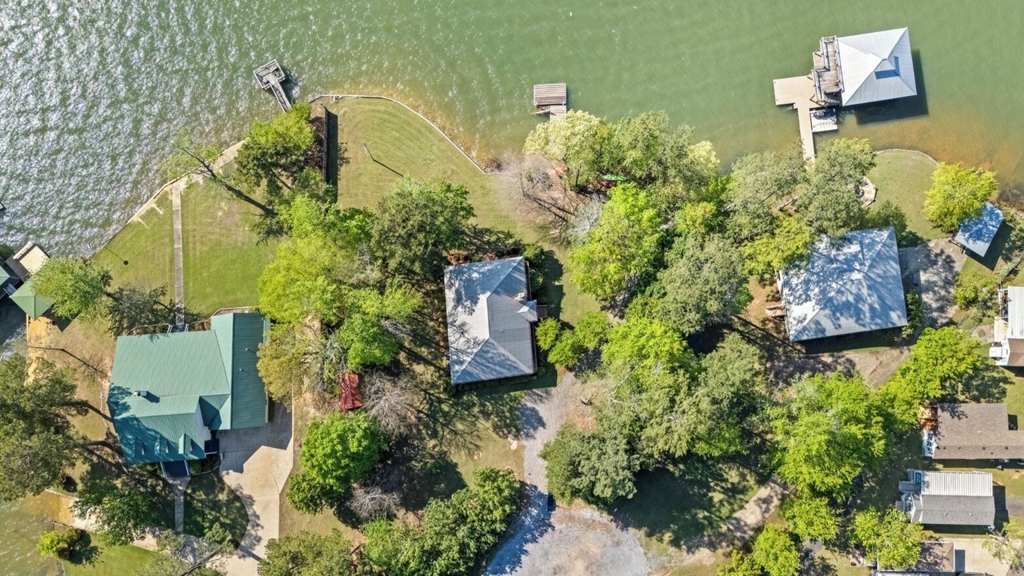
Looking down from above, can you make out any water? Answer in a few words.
Yes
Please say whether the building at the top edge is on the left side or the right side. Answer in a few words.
right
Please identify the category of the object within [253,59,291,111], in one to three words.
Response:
pier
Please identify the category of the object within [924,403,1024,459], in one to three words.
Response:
house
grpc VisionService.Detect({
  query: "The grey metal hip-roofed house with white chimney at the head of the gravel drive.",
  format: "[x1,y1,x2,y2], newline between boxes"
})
[444,256,543,384]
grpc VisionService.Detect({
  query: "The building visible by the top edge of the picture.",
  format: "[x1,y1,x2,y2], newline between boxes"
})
[835,27,917,111]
